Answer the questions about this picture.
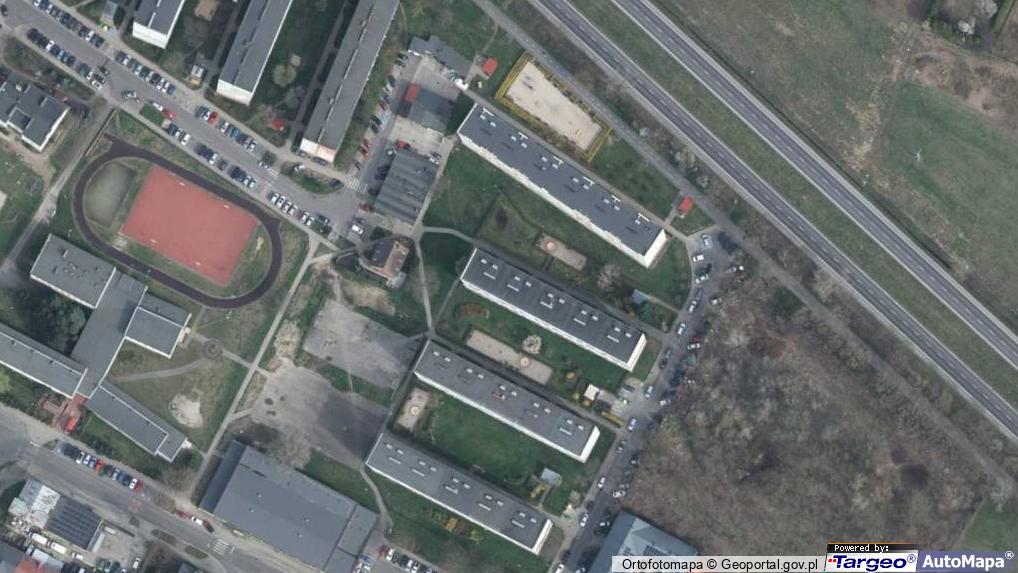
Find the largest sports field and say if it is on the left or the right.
left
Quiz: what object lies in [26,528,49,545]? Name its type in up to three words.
vehicle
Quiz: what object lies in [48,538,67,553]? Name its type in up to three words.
vehicle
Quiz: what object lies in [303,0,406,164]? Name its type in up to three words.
building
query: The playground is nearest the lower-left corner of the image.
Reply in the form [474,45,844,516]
[397,387,428,431]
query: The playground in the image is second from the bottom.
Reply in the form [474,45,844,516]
[468,330,553,385]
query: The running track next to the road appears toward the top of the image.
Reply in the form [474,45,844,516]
[74,133,283,309]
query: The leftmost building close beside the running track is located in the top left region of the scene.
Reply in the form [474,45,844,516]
[0,67,72,154]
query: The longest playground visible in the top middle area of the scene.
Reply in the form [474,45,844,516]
[508,62,600,150]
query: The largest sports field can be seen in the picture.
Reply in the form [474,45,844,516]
[118,163,261,287]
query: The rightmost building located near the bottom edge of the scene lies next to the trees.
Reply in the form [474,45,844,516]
[588,512,698,573]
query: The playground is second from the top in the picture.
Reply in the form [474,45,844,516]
[539,233,587,271]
